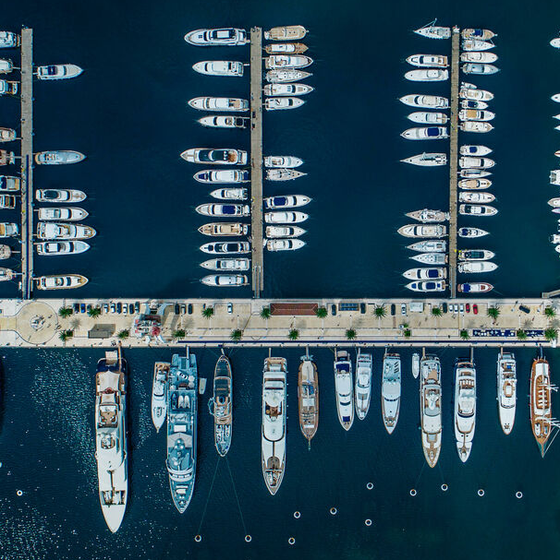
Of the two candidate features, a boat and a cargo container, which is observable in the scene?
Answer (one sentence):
It is a boat that can be seen here.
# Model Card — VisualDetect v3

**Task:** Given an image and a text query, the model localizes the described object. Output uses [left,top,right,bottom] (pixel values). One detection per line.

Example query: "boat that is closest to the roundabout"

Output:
[29,273,88,290]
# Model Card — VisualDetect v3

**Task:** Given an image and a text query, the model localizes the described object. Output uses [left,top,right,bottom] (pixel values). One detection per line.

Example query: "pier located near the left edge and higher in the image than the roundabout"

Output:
[19,26,34,300]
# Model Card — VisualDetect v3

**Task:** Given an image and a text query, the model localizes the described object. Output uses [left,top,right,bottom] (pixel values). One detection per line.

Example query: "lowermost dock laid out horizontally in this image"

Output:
[0,298,560,347]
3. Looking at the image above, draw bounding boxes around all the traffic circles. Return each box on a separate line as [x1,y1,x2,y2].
[15,301,58,343]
